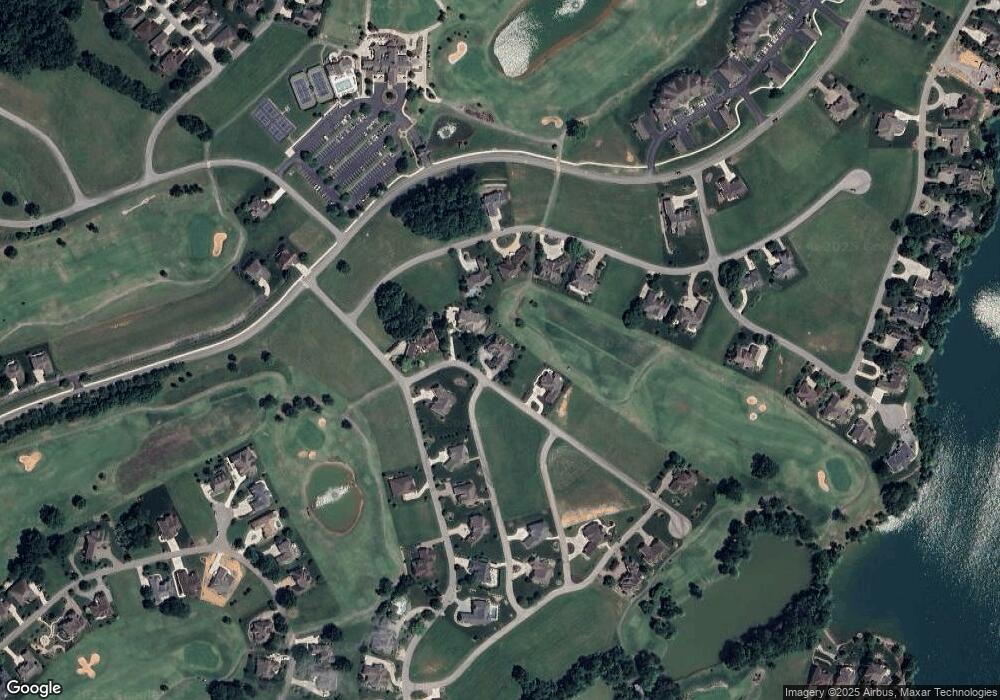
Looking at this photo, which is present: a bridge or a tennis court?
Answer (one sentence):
This aerial view contains a tennis court.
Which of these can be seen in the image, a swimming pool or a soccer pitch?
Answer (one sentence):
The one in the frame is a swimming pool.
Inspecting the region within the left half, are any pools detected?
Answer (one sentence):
Yes, a pool is visible within the left half.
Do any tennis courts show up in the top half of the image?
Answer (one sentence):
Yes, in the top half of the image there is a tennis court.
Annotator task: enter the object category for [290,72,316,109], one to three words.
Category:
tennis court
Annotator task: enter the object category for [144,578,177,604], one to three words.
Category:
house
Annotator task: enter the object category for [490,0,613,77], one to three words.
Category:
pond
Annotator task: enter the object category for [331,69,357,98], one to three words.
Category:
swimming pool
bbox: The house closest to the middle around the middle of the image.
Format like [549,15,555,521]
[482,334,519,371]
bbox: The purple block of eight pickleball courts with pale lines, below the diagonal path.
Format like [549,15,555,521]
[249,97,296,144]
